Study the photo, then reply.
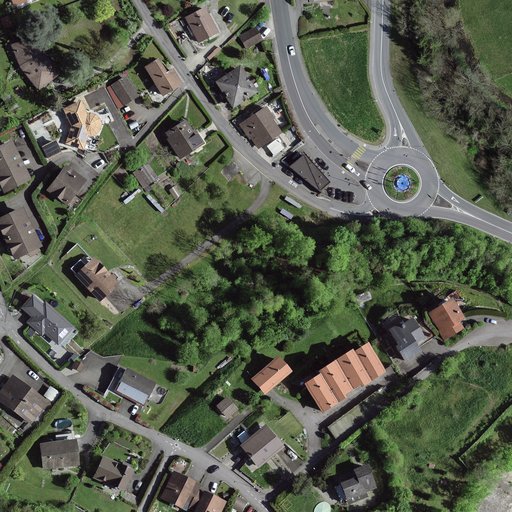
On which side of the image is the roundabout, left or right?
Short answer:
right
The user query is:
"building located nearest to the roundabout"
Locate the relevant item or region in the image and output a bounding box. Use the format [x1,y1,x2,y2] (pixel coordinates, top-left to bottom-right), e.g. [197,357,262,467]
[289,153,330,191]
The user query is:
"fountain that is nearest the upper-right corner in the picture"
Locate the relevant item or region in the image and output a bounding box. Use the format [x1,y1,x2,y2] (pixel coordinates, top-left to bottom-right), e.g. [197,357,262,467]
[394,174,411,192]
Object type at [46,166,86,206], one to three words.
house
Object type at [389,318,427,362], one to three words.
house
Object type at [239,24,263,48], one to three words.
barn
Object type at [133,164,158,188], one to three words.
shed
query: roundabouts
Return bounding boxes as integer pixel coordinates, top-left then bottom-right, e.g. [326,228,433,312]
[356,138,454,220]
